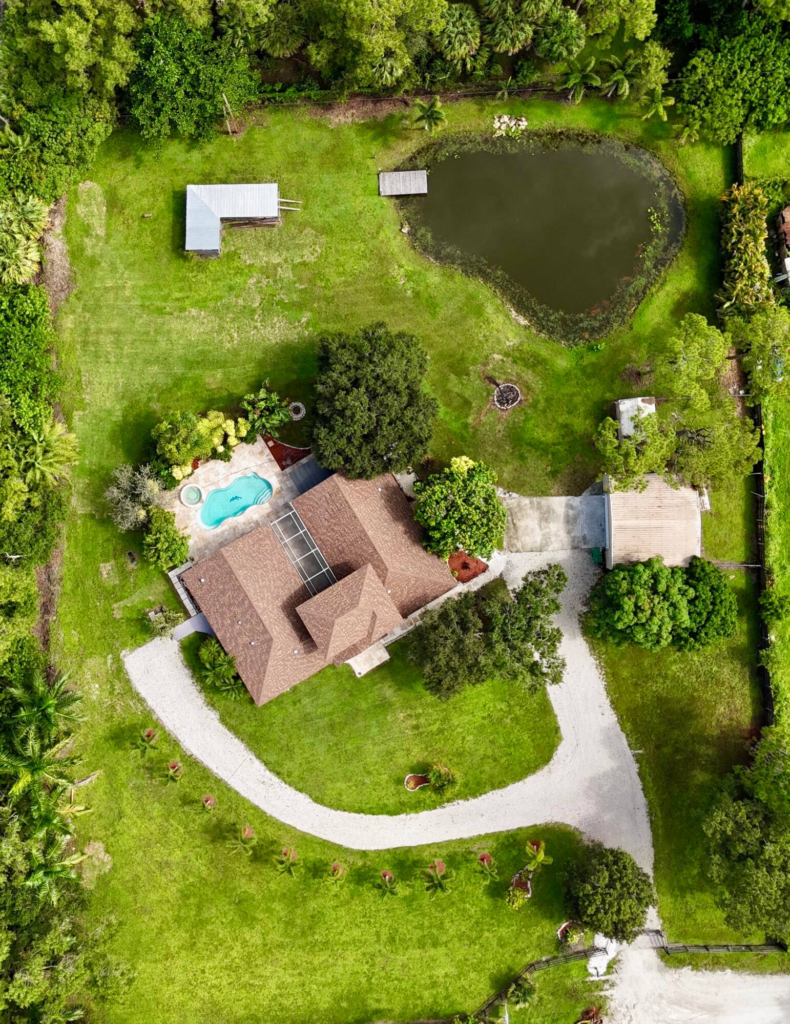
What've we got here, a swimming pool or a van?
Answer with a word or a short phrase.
swimming pool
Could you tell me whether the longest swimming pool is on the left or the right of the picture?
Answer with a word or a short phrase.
left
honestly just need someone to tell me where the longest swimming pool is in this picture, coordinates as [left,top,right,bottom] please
[198,471,275,531]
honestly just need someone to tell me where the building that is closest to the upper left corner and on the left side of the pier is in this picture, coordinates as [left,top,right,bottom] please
[185,183,282,258]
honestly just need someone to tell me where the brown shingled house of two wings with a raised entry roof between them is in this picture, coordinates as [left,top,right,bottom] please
[181,454,457,707]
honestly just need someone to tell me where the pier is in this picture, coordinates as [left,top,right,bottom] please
[377,169,427,199]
